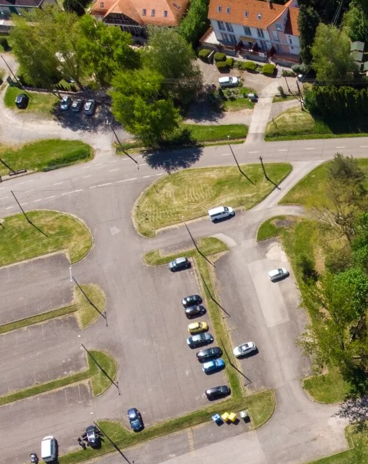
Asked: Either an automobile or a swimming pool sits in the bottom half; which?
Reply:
automobile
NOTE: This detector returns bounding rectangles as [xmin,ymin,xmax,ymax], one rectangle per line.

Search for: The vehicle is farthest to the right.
[264,265,293,282]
